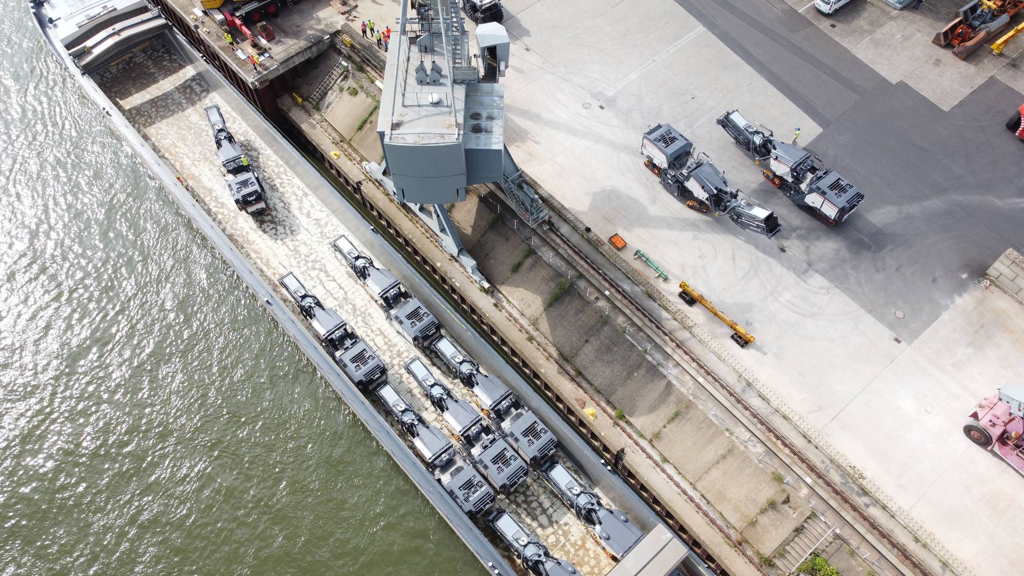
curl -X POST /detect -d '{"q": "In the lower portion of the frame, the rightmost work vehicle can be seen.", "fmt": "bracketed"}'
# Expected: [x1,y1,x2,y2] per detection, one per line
[961,376,1024,473]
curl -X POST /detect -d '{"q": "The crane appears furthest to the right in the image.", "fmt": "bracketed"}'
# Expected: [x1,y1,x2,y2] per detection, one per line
[356,0,564,302]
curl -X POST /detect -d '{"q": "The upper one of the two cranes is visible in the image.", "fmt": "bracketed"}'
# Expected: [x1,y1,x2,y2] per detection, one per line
[189,0,275,44]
